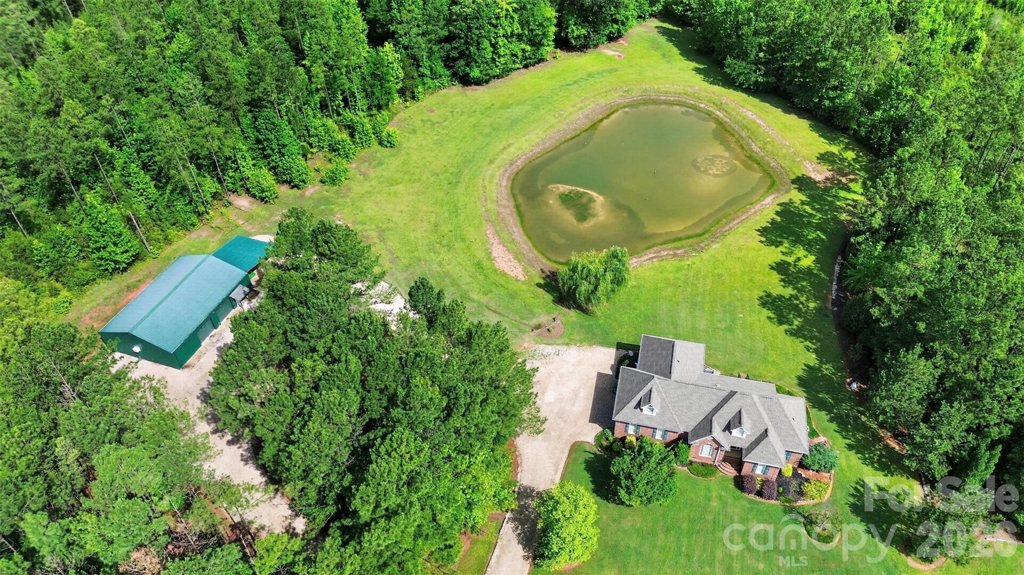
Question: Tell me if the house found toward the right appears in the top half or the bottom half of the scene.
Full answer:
You can find the house found toward the right in the bottom half.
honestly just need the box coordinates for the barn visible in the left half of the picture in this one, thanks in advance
[98,232,272,369]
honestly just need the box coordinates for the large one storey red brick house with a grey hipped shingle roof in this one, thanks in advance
[613,335,809,482]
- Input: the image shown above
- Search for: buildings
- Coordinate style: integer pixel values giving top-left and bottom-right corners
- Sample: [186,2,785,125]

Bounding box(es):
[613,335,809,482]
[98,232,272,369]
